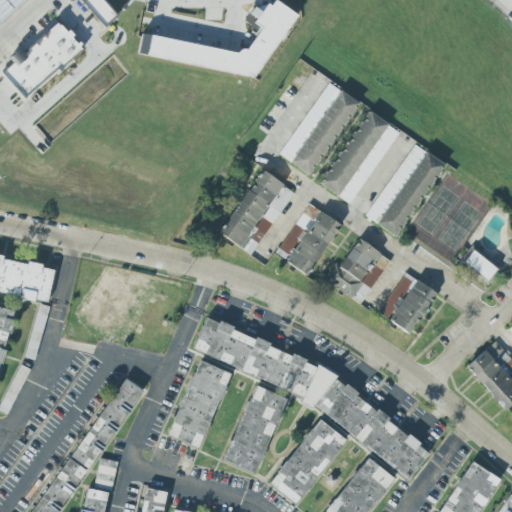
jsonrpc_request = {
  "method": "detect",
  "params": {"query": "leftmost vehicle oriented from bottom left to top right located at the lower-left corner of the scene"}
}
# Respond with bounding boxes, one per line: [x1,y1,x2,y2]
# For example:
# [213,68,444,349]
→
[25,478,44,500]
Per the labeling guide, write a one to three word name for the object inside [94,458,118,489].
house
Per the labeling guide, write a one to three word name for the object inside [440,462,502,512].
building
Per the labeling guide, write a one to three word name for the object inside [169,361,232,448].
building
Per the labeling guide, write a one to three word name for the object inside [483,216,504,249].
swimming pool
